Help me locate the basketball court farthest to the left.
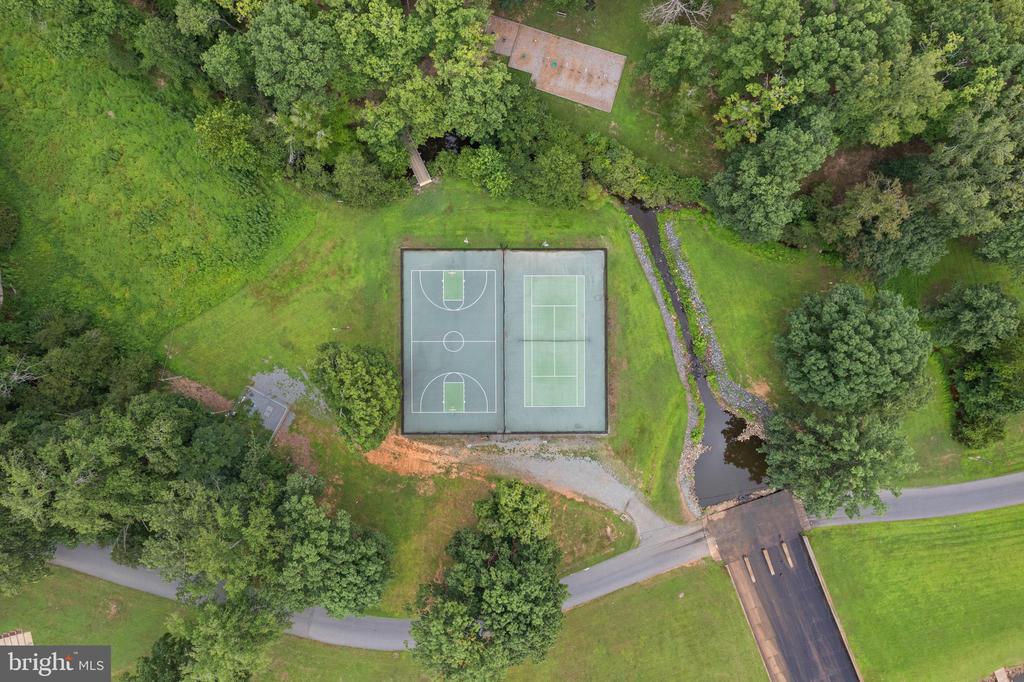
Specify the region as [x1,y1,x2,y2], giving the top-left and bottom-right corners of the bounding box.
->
[403,250,503,433]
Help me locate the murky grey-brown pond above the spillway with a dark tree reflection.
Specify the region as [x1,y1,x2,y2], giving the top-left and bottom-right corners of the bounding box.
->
[695,394,775,506]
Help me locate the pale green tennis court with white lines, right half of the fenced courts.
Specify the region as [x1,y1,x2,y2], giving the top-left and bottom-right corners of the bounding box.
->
[504,250,606,433]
